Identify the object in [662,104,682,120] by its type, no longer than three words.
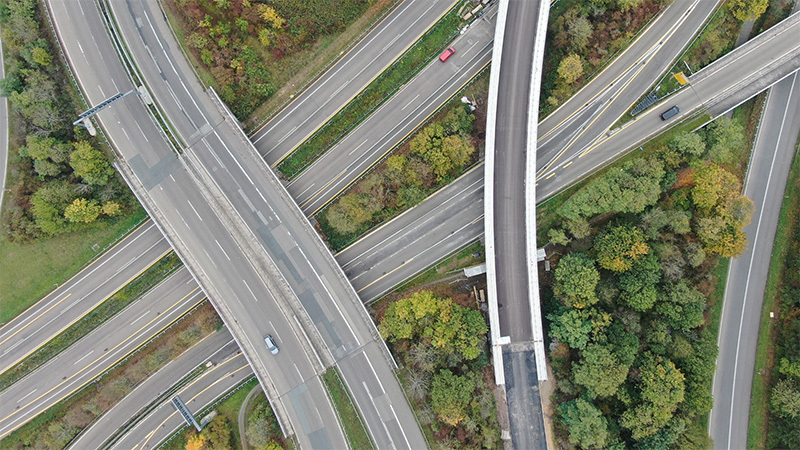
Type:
car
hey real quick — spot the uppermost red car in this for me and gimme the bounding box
[439,46,456,62]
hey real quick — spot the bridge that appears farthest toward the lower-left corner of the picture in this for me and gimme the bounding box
[113,86,398,438]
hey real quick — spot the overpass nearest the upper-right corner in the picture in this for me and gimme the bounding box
[687,11,800,130]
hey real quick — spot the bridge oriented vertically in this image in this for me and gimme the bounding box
[484,0,550,385]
